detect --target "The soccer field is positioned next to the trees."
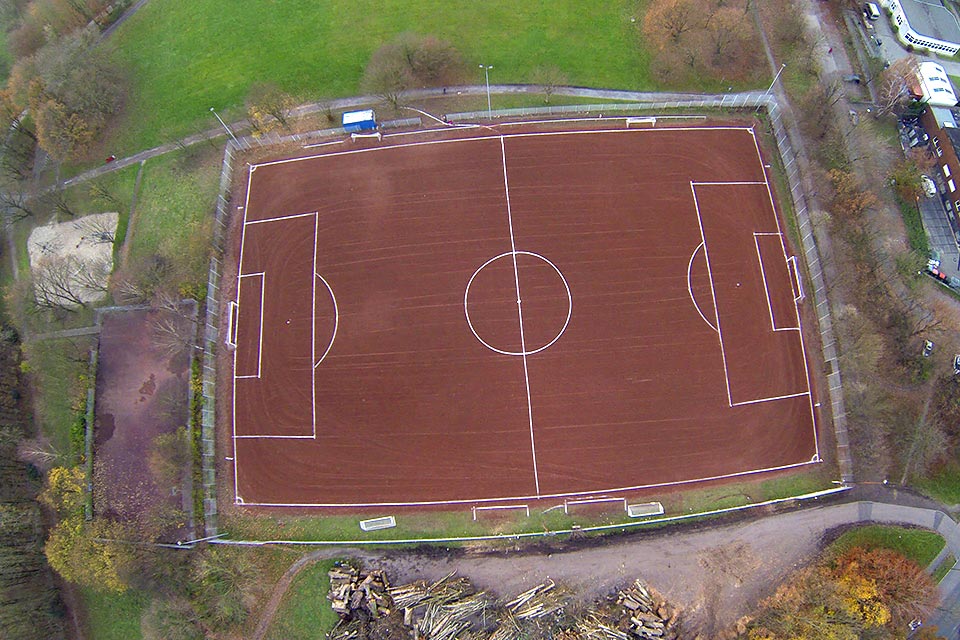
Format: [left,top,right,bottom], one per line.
[225,120,830,521]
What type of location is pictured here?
sports ground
